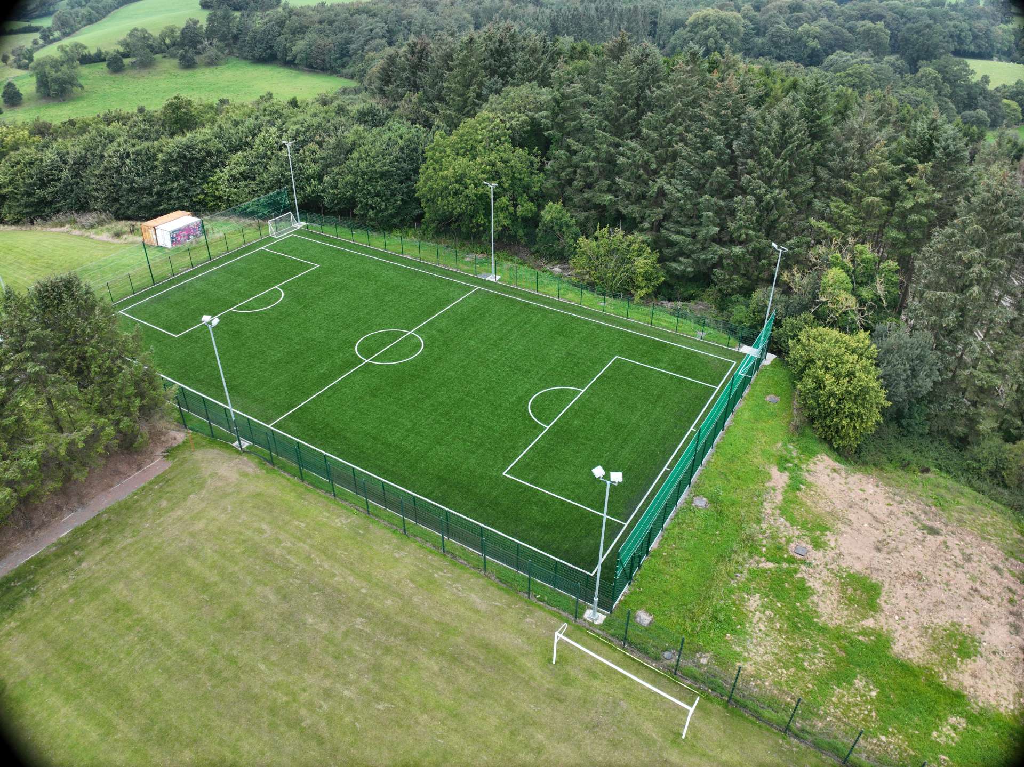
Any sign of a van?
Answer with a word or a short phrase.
No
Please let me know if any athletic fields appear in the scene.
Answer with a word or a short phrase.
Yes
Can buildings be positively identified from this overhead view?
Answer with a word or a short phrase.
No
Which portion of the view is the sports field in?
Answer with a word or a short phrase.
center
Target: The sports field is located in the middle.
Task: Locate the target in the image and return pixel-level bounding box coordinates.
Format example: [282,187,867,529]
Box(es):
[102,225,765,616]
